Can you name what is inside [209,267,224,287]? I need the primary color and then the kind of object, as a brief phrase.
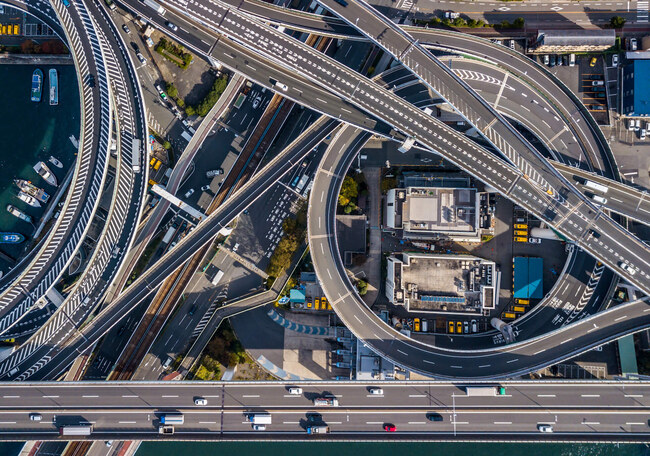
white vehicle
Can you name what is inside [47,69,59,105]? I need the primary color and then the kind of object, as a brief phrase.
blue boat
